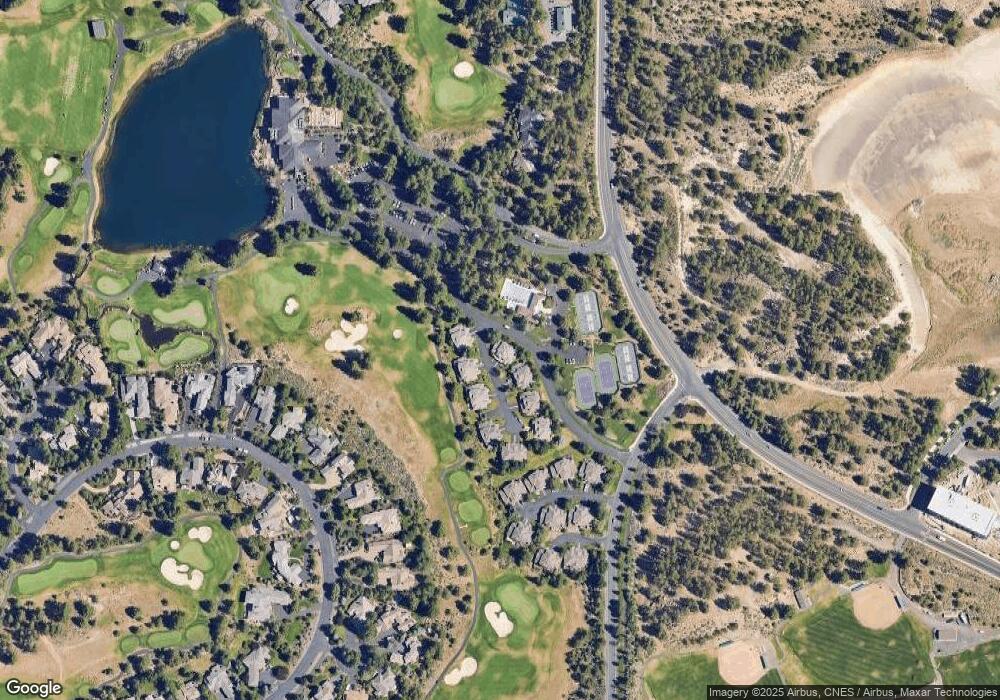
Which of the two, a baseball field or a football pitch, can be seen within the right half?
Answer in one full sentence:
What appears within the right half is a baseball field.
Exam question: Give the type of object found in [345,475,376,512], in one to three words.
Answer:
house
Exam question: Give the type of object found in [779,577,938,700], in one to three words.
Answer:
baseball field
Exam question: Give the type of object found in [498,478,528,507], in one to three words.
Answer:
building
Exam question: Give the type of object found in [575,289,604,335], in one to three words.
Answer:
tennis court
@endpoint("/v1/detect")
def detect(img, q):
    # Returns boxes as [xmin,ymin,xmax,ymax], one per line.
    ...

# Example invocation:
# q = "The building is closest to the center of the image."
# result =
[488,340,518,368]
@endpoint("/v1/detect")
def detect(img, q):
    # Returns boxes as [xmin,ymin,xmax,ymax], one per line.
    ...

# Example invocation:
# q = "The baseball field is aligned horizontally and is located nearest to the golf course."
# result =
[642,638,802,700]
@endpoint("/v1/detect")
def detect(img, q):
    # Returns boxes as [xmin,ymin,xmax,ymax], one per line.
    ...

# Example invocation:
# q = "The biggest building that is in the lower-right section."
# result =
[927,487,996,539]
